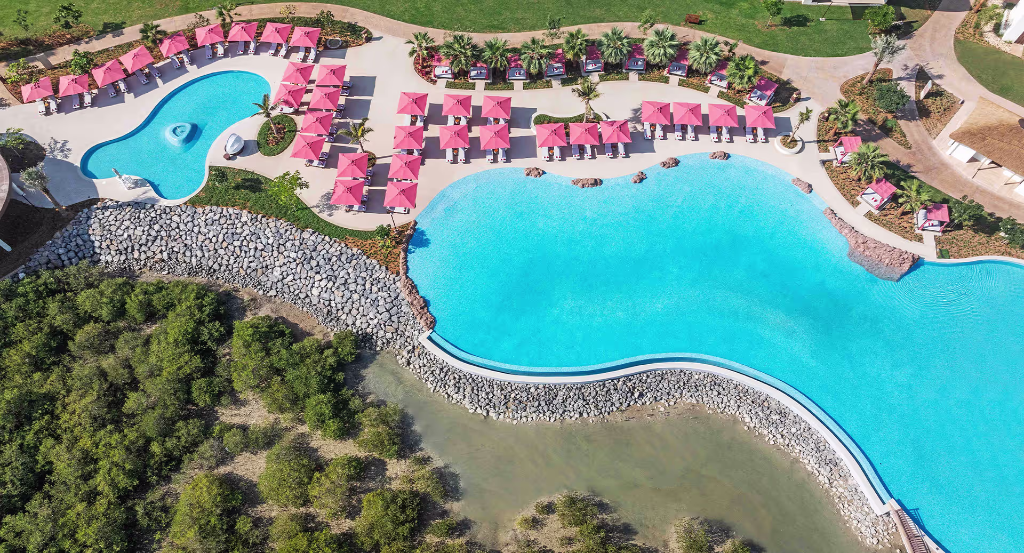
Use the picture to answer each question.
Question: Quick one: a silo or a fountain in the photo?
fountain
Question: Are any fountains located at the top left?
Yes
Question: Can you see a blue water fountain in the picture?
Yes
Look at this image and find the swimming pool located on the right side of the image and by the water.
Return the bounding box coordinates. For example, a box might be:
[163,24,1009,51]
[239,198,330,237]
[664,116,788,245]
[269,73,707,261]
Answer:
[407,152,1024,553]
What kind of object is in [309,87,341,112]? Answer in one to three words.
umbrella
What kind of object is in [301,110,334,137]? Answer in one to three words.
umbrella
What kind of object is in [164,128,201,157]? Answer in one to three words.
fountain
